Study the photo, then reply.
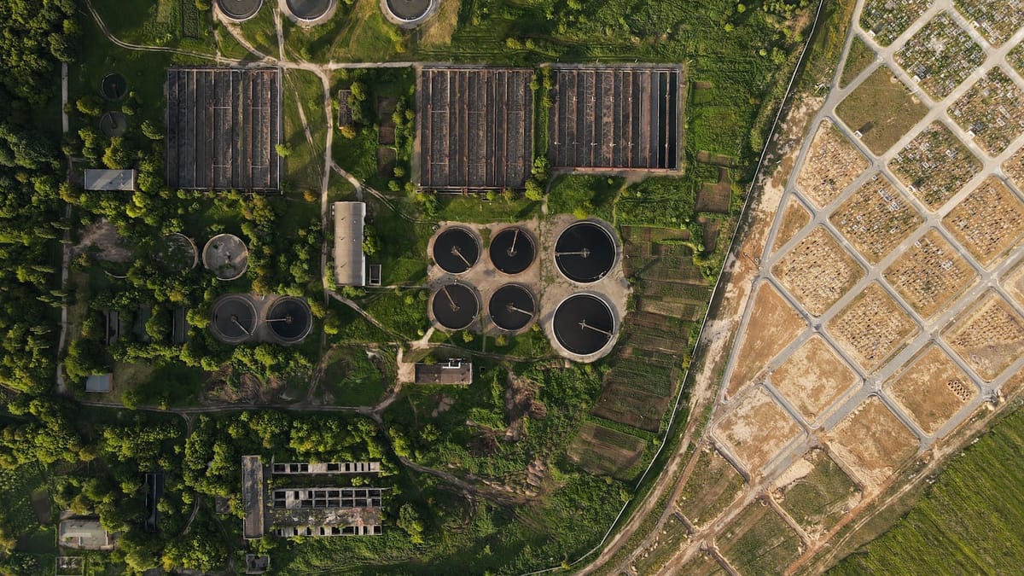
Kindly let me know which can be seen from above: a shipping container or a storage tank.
storage tank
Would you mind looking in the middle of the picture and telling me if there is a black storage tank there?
Yes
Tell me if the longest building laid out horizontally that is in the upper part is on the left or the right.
left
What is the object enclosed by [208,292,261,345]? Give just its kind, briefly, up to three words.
storage tank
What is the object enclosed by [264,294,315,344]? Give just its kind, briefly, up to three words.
storage tank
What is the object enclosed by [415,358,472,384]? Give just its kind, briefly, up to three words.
building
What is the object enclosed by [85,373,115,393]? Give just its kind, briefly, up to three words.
shed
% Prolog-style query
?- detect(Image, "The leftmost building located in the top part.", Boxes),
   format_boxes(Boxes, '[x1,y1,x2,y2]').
[84,169,138,192]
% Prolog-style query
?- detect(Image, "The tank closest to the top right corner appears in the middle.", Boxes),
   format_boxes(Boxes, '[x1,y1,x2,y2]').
[551,218,619,287]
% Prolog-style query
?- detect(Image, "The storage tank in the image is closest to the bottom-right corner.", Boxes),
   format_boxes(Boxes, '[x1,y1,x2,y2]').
[549,290,618,358]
